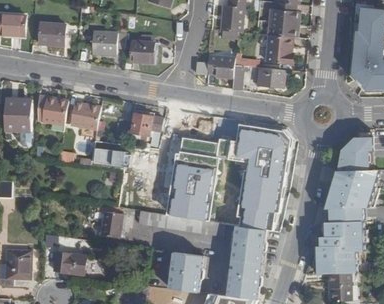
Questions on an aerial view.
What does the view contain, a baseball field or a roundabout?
roundabout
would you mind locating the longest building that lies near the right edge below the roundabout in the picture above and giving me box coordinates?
[316,170,382,303]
